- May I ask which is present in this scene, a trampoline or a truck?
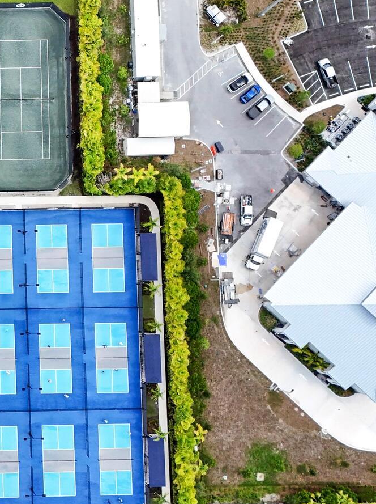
truck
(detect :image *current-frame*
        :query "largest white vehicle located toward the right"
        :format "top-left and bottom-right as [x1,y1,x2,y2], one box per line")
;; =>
[245,210,283,272]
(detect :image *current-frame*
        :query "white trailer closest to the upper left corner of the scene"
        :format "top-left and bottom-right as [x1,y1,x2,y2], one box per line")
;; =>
[129,0,172,82]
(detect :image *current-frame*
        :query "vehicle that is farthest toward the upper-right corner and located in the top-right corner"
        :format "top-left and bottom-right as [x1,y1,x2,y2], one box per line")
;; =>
[317,59,337,90]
